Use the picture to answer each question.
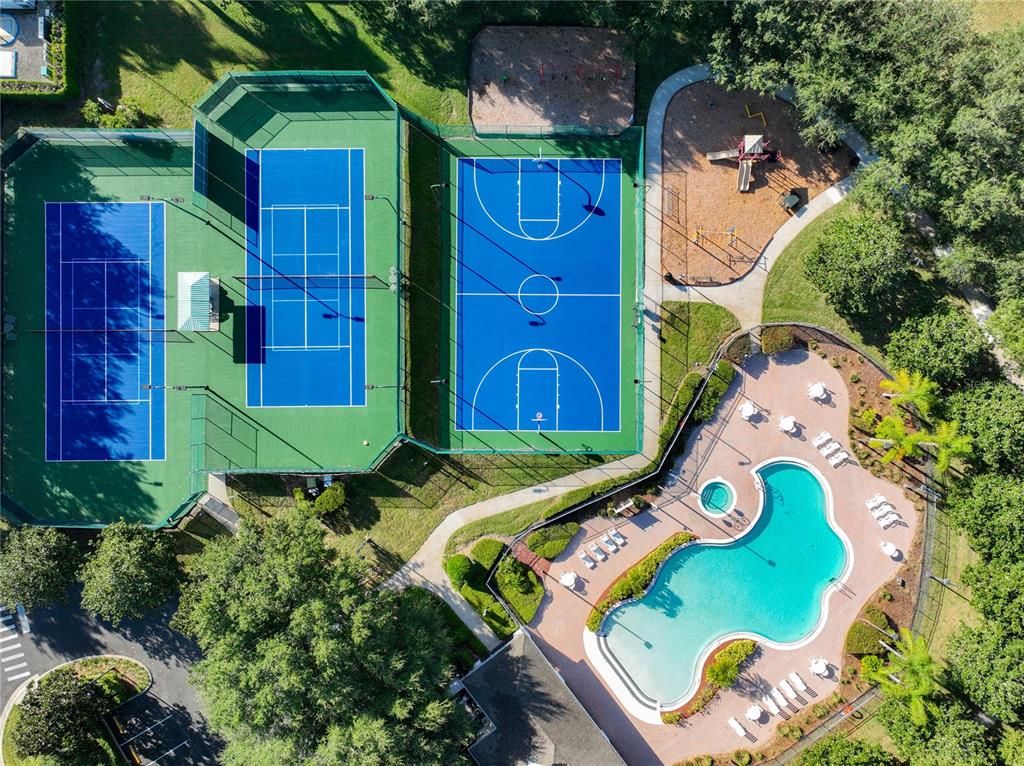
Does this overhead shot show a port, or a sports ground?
sports ground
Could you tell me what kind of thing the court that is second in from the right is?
tennis court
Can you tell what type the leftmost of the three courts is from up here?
tennis court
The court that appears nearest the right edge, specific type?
basketball court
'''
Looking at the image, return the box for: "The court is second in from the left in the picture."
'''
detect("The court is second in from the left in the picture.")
[209,84,405,470]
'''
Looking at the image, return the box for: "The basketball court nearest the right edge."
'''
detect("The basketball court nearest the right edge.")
[440,139,635,450]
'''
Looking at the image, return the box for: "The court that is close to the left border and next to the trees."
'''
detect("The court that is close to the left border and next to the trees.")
[5,139,209,523]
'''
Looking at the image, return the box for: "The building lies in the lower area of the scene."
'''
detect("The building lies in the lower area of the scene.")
[459,629,626,766]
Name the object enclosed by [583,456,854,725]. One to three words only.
swimming pool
